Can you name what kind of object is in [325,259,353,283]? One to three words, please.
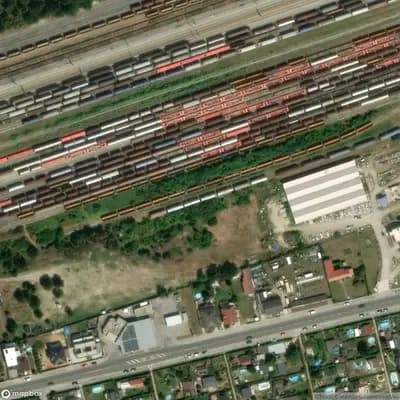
house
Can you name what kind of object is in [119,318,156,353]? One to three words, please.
building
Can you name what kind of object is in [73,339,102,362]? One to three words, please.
building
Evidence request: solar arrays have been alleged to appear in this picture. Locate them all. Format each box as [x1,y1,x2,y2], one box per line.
[123,326,136,341]
[123,341,138,352]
